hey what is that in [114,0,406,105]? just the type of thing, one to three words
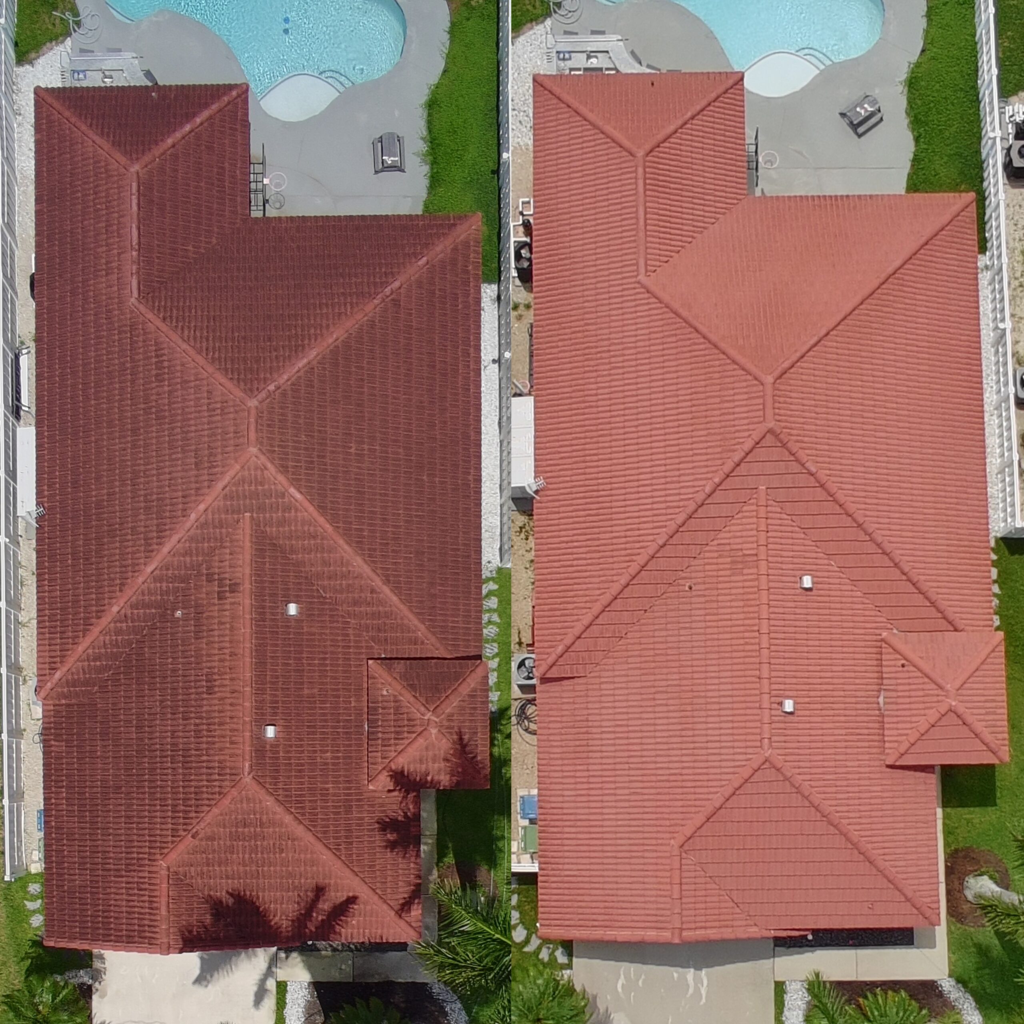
swimming pool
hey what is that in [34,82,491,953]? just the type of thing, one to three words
house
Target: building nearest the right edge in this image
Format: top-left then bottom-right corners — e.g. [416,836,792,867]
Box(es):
[533,71,1009,943]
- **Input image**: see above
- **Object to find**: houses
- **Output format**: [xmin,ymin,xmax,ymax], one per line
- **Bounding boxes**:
[533,71,1009,943]
[34,82,491,953]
